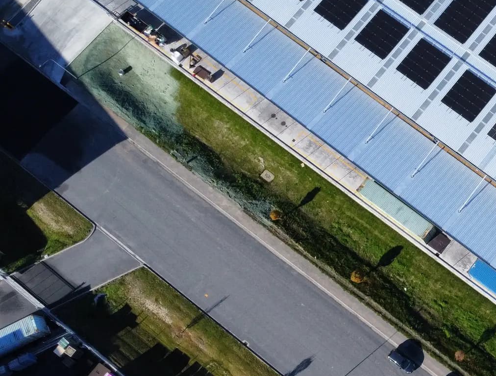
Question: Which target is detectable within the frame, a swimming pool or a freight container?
freight container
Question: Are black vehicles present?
Yes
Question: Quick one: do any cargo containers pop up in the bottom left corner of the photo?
Yes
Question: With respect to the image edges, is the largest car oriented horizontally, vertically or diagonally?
diagonally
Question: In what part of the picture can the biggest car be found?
bottom right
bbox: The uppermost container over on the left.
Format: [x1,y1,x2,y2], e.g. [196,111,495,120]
[0,315,48,355]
